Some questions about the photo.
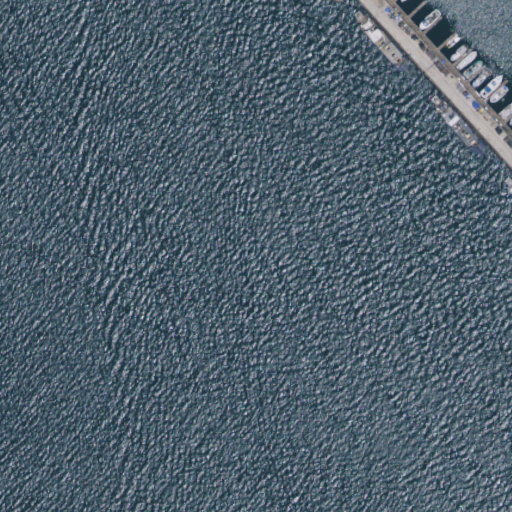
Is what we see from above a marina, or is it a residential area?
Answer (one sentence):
This image shows a marina.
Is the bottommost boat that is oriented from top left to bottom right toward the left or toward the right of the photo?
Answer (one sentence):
You can find the bottommost boat that is oriented from top left to bottom right on the right side of the picture.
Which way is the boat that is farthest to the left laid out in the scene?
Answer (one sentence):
The boat that is farthest to the left has been laid out on a diagonal relative to the frame.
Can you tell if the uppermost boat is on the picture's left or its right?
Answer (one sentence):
The uppermost boat sits on the right side.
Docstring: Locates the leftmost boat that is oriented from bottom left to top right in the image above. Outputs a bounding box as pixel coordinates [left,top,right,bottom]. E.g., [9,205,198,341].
[419,8,440,28]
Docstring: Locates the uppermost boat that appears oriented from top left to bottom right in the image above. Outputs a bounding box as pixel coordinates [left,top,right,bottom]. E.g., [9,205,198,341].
[356,12,404,65]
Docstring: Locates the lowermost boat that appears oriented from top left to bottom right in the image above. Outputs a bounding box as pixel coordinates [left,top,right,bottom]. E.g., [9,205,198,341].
[432,96,480,148]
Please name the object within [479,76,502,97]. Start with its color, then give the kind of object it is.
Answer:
white boat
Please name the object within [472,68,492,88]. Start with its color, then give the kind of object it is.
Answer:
white boat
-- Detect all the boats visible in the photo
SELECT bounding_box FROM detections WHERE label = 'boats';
[356,12,404,65]
[490,86,510,105]
[456,48,480,69]
[432,96,480,148]
[419,8,440,28]
[465,58,484,76]
[498,98,512,116]
[446,34,462,50]
[472,68,492,88]
[449,44,468,60]
[479,76,502,97]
